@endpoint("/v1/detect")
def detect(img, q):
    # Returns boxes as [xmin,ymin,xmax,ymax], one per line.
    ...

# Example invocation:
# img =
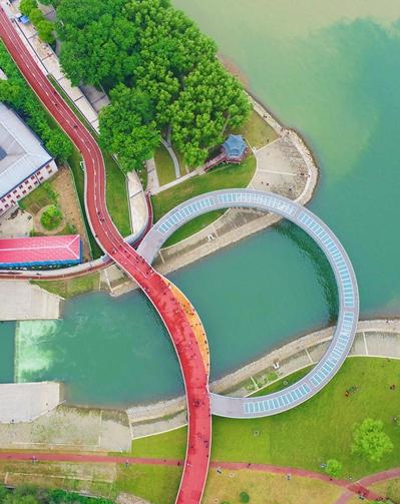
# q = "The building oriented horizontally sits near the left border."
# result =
[0,233,84,270]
